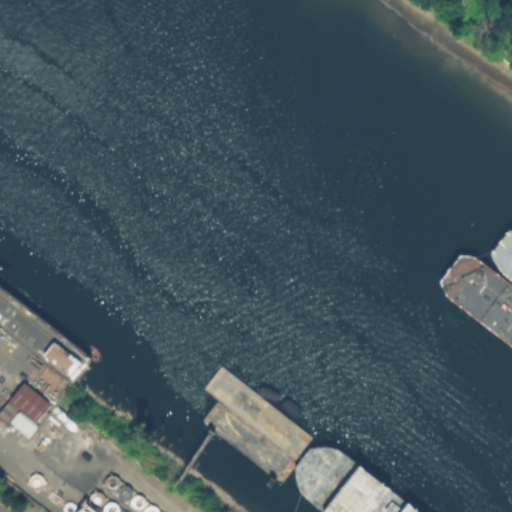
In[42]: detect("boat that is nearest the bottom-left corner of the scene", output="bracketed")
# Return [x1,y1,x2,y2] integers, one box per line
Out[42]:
[53,406,79,432]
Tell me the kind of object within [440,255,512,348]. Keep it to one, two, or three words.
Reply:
ship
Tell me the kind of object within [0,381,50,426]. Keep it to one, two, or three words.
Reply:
building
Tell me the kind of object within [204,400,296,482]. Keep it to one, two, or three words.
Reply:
ship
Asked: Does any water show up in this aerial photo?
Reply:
Yes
